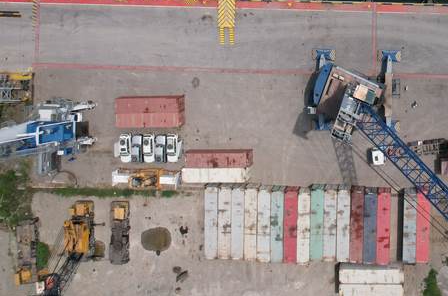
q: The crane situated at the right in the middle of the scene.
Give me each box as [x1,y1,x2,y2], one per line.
[309,48,448,234]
